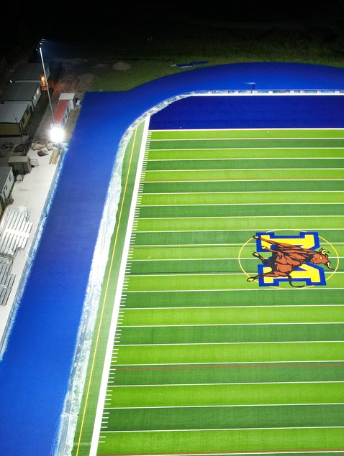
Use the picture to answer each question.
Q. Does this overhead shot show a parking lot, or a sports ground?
sports ground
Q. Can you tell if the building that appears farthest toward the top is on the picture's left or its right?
left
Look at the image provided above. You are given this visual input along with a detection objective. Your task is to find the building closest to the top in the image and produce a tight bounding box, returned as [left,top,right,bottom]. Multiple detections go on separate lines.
[11,62,51,91]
